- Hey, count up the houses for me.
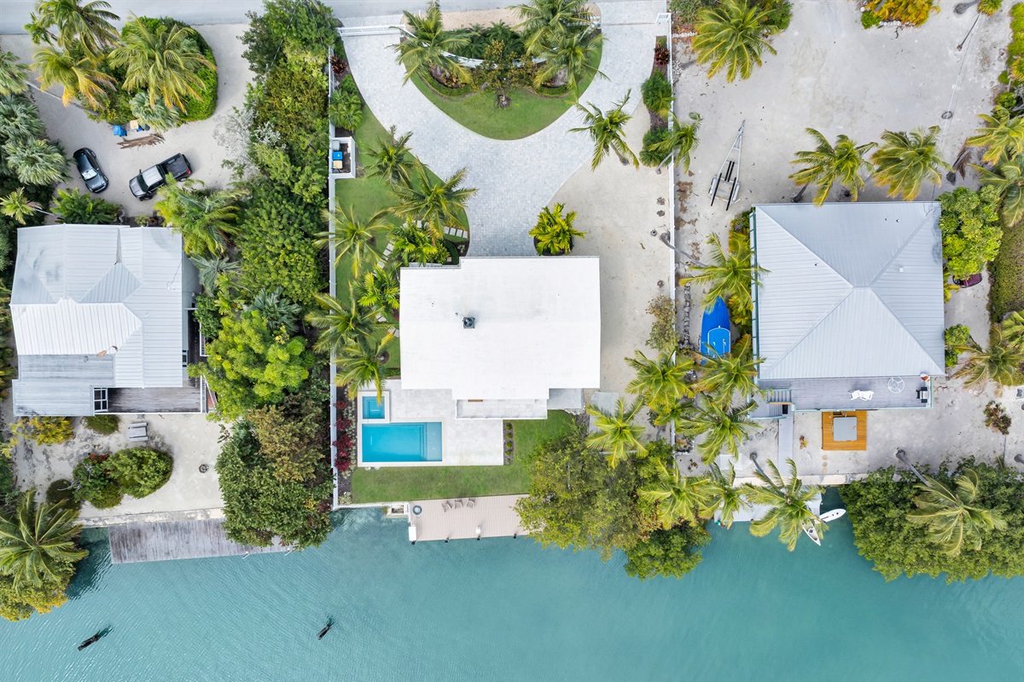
3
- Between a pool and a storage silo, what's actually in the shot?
pool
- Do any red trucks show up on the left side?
No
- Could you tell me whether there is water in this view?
Yes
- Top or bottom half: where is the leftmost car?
top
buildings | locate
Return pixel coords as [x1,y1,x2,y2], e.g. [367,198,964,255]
[10,223,216,417]
[400,255,601,419]
[739,201,945,417]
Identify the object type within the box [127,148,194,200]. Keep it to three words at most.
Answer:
truck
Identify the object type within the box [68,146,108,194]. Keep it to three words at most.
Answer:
car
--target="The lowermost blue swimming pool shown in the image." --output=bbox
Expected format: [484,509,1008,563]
[358,419,446,466]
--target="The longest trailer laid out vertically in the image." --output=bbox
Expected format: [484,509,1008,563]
[710,120,742,210]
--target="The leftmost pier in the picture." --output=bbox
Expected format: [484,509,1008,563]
[109,518,291,564]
